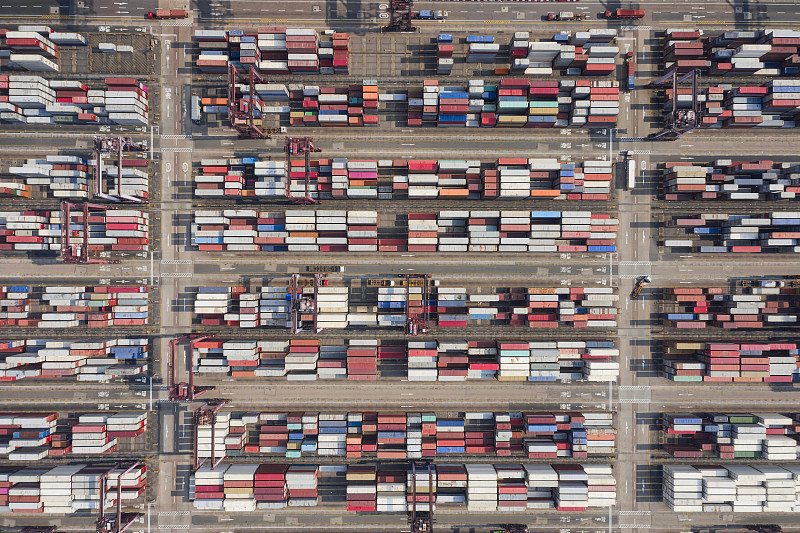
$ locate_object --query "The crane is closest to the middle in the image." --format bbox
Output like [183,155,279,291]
[401,272,430,336]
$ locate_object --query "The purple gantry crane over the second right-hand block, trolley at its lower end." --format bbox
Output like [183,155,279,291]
[642,60,698,138]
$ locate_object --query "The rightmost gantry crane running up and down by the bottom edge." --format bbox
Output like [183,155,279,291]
[405,457,434,533]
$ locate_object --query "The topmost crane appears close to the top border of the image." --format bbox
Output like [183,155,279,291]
[386,0,416,28]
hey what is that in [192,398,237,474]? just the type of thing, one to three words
container crane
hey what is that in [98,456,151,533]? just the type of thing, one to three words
container crane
